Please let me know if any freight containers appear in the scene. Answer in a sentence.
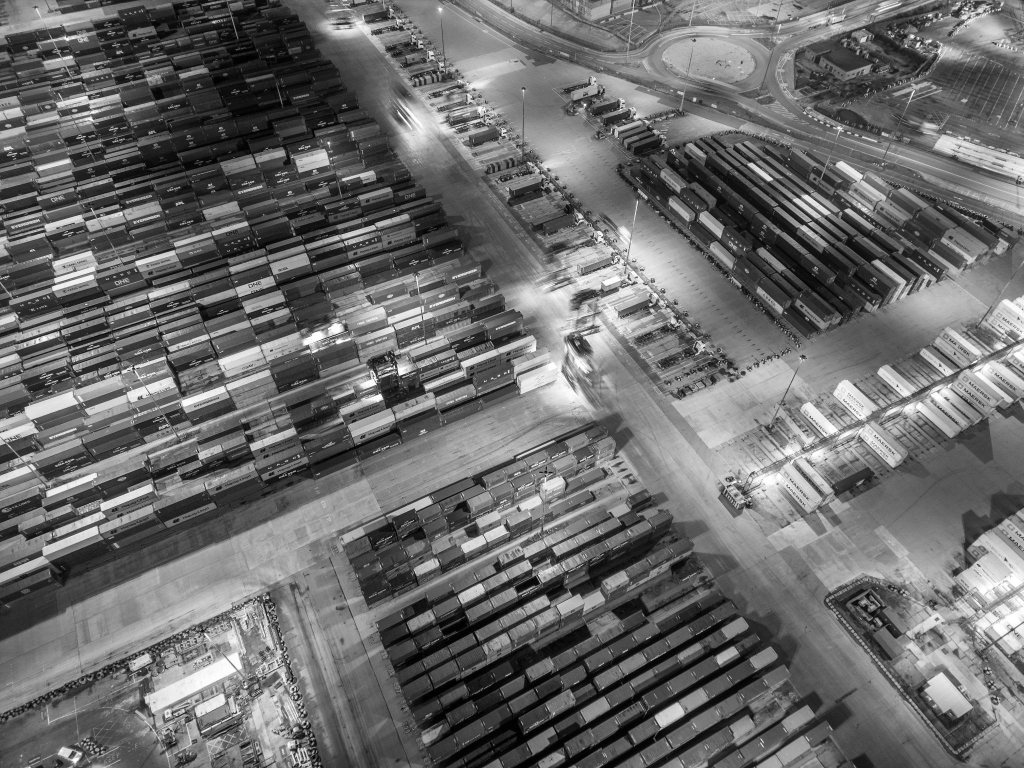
Yes, there is a freight container in the image.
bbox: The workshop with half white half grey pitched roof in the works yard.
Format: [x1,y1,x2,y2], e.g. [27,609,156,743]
[196,694,235,735]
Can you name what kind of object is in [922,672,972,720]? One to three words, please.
shed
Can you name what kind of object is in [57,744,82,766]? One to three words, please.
car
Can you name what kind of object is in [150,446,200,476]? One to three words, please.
shipping container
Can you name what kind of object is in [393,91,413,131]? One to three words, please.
work vehicle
